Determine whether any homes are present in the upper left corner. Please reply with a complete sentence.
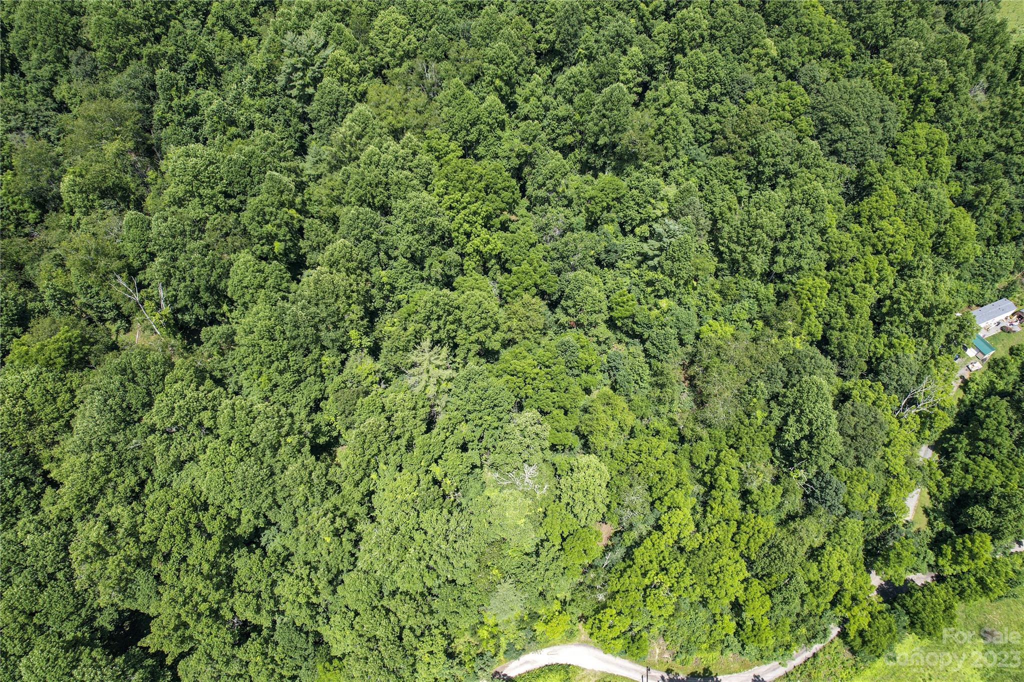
No, there is no home in the upper left corner.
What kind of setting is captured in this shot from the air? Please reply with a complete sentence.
It's a forest.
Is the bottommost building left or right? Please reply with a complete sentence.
You can find the bottommost building on the right side of the picture.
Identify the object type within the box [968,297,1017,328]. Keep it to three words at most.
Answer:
house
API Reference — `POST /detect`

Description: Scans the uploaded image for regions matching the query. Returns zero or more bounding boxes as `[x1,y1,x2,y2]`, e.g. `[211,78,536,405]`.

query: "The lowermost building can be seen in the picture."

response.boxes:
[969,335,995,359]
